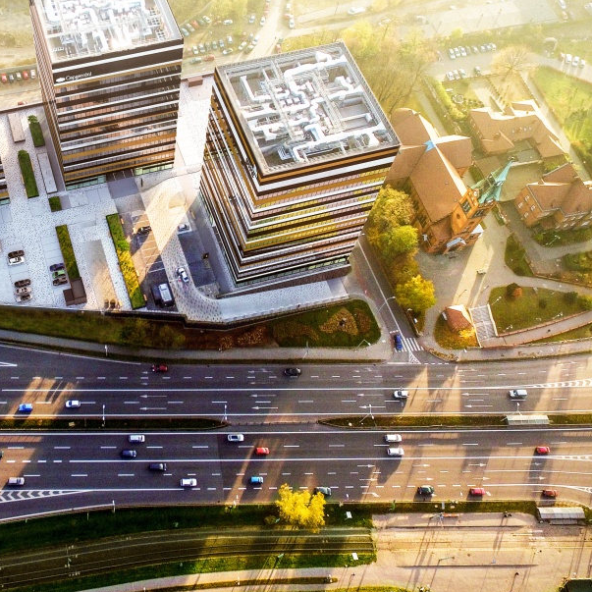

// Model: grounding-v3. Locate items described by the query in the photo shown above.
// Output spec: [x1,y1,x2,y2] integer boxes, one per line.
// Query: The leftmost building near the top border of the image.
[30,0,183,189]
